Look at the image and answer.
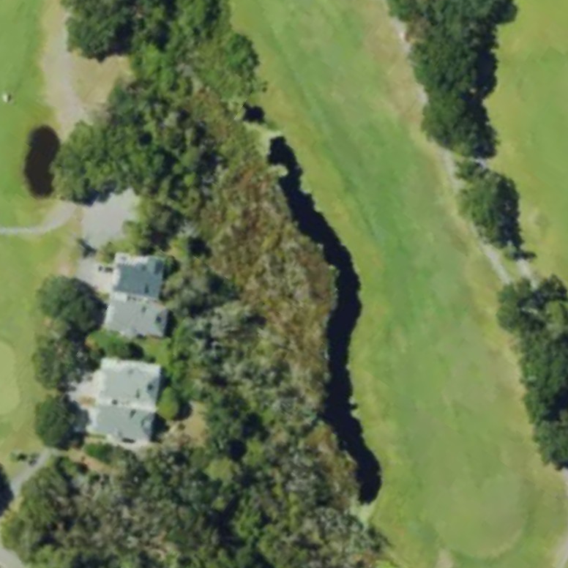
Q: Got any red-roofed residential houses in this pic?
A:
No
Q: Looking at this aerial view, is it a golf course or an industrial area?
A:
golf course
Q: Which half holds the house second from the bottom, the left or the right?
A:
left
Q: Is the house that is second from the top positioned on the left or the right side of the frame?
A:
left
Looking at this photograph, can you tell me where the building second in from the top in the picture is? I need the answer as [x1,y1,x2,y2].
[104,302,168,339]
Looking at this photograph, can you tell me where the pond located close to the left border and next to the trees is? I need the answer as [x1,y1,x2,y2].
[25,125,61,198]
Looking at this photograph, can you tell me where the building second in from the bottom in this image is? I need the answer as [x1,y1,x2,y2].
[96,358,161,409]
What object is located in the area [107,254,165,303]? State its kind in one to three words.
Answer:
house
